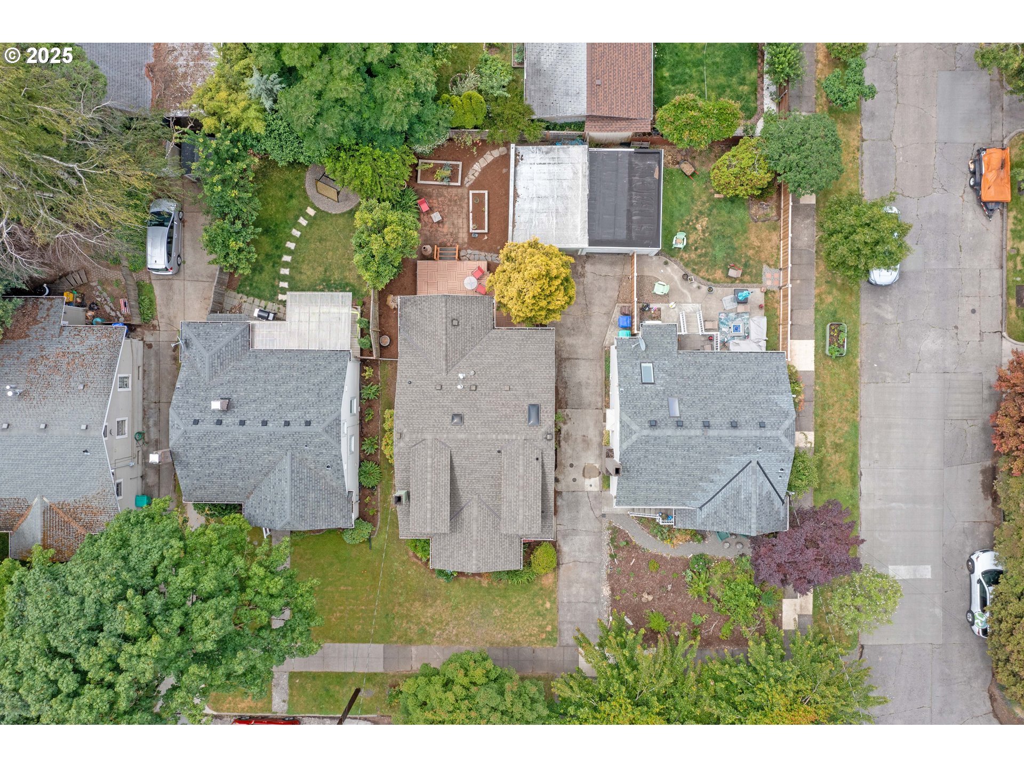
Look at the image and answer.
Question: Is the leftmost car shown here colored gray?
Yes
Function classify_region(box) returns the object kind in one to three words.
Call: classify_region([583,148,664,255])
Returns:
building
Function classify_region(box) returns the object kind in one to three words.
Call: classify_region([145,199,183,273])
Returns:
car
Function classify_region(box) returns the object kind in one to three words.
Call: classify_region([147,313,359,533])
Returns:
house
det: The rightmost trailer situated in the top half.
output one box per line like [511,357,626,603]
[961,143,1011,231]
